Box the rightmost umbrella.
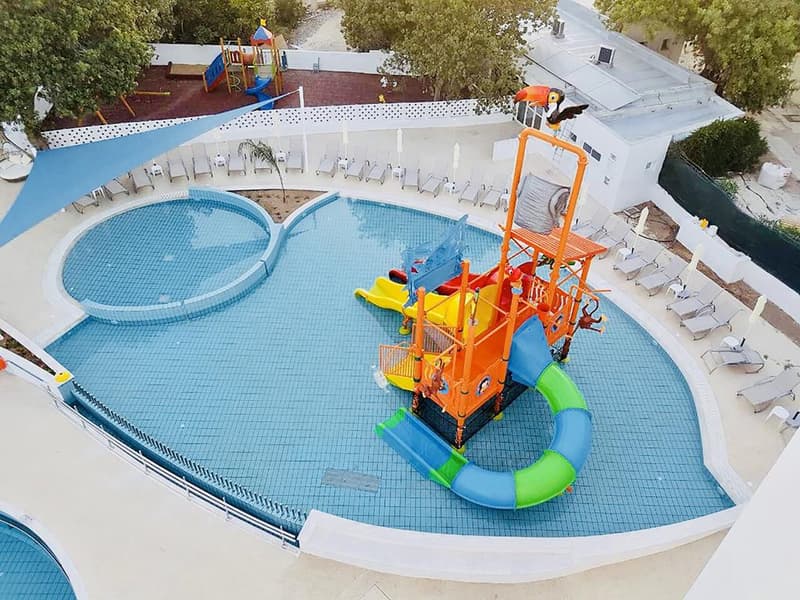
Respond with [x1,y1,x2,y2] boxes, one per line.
[745,294,771,336]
